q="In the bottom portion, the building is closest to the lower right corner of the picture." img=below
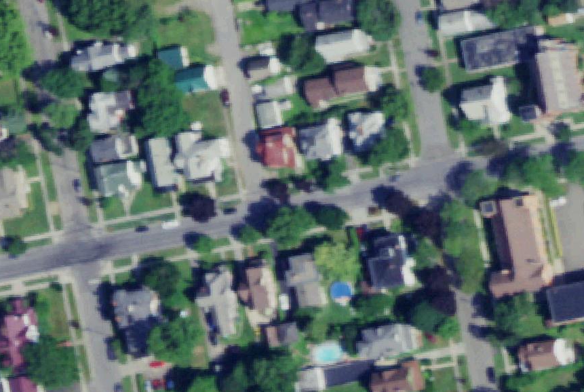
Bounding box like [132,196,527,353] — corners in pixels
[515,337,574,372]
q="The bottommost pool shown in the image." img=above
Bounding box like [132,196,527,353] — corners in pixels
[313,339,343,367]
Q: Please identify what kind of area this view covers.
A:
residential area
